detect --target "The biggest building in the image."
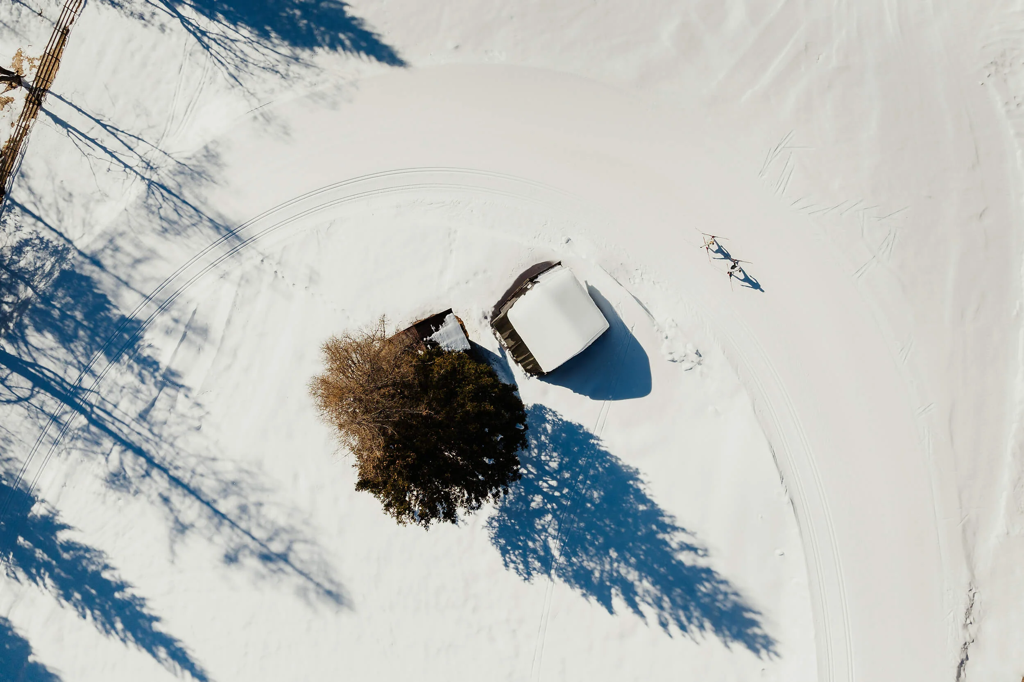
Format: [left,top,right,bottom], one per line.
[493,261,609,373]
